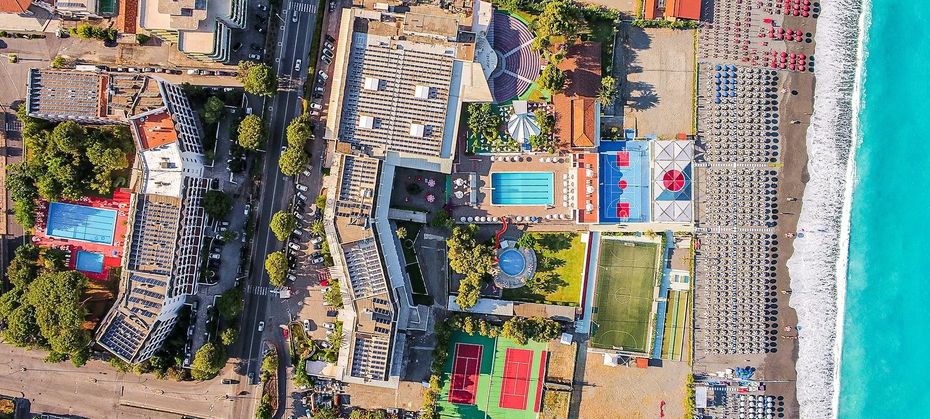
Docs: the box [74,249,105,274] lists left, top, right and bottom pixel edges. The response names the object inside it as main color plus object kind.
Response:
blue swimming pool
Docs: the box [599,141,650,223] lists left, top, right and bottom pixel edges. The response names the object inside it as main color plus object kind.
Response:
blue basketball court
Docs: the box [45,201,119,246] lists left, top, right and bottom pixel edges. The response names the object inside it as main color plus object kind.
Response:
blue swimming pool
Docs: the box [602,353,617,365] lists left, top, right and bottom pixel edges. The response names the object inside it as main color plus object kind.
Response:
white gazebo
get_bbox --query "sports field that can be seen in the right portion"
[589,234,665,356]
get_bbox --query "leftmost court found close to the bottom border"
[449,343,483,404]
